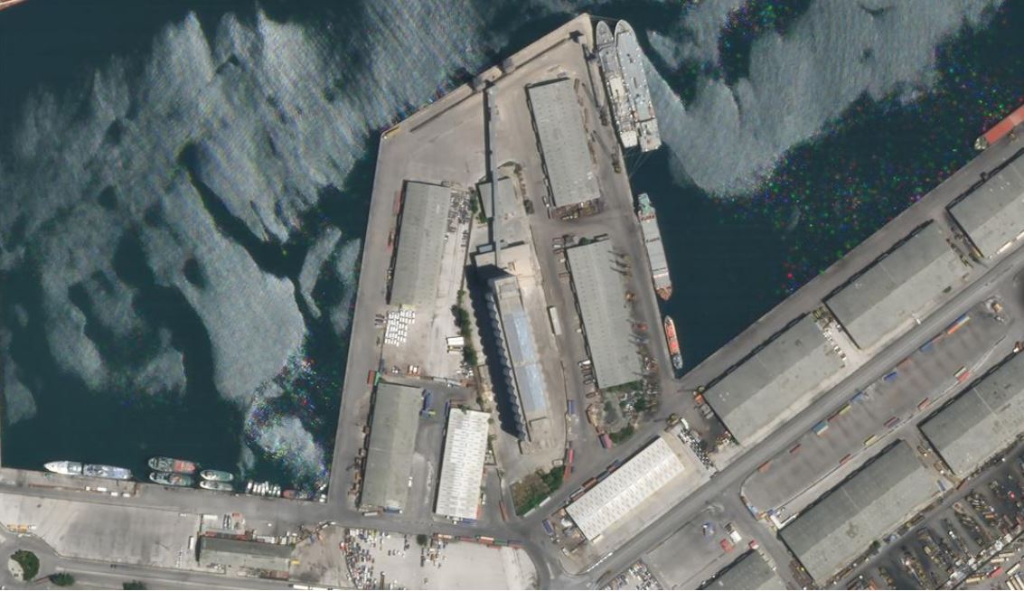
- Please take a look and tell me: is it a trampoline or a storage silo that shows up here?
storage silo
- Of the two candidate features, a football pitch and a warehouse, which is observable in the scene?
warehouse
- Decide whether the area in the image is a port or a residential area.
port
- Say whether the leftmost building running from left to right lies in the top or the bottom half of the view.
bottom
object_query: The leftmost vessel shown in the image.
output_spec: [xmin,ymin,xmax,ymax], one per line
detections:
[44,461,84,475]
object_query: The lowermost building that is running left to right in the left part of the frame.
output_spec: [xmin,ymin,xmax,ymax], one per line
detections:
[200,537,295,571]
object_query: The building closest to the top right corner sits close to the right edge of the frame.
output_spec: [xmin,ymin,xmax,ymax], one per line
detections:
[947,149,1024,258]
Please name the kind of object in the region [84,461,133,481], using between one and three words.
ship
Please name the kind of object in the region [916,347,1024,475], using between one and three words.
building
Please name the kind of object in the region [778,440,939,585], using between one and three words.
warehouse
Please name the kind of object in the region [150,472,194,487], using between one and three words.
vessel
